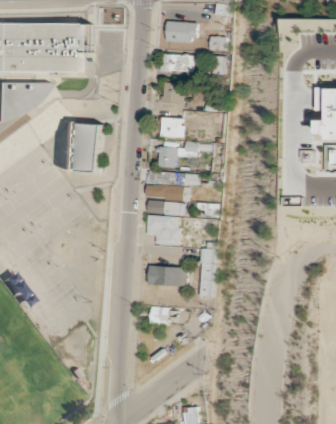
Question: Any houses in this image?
Yes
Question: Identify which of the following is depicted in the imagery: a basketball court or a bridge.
basketball court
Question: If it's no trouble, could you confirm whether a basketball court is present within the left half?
Yes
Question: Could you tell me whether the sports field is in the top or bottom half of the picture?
bottom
